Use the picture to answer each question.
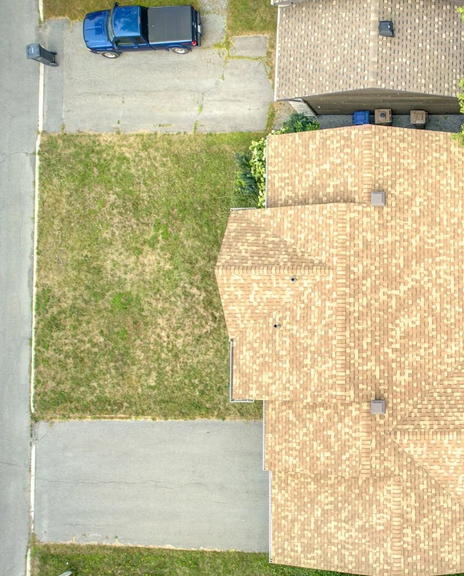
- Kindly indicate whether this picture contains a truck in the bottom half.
No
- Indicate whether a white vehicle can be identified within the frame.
No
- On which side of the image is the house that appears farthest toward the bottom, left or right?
right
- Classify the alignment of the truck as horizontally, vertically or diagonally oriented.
horizontally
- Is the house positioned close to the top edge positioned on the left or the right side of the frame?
right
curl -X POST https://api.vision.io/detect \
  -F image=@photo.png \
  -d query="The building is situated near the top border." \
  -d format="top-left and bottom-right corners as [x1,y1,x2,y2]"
[268,0,464,114]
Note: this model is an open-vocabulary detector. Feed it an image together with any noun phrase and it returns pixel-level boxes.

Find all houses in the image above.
[268,0,464,114]
[216,124,464,576]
